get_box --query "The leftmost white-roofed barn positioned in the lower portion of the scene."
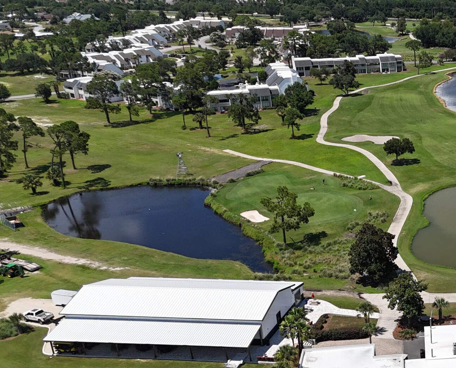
[43,278,306,366]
